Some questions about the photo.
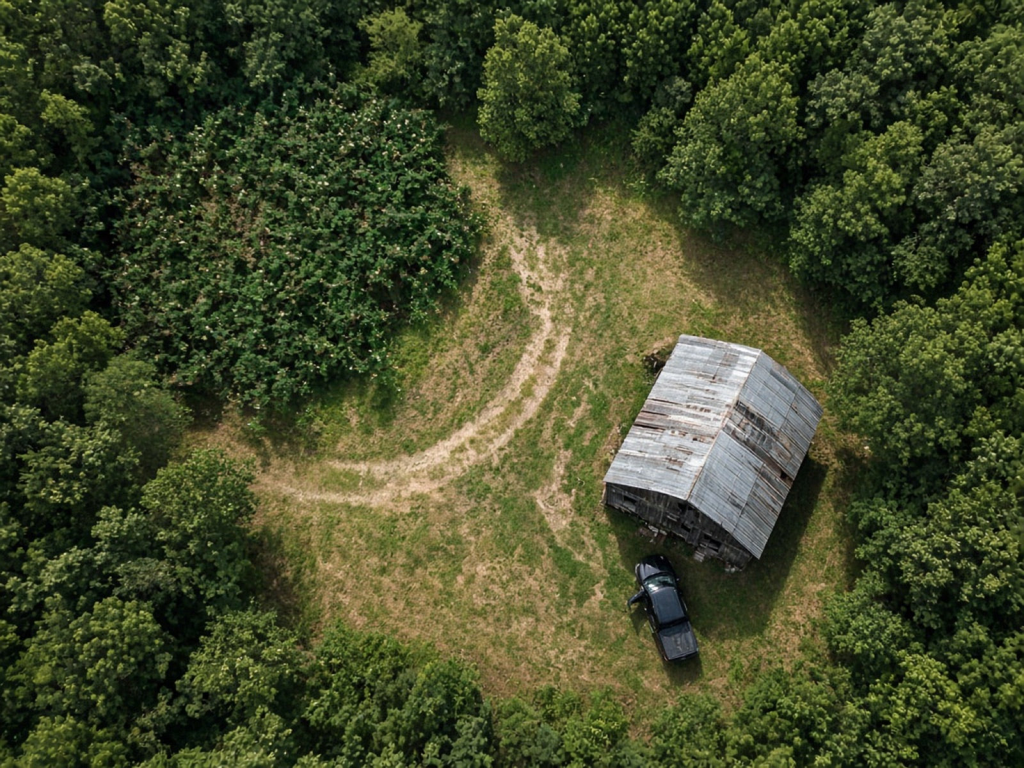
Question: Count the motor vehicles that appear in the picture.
one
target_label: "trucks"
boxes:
[629,552,702,665]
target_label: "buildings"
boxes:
[602,336,822,570]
